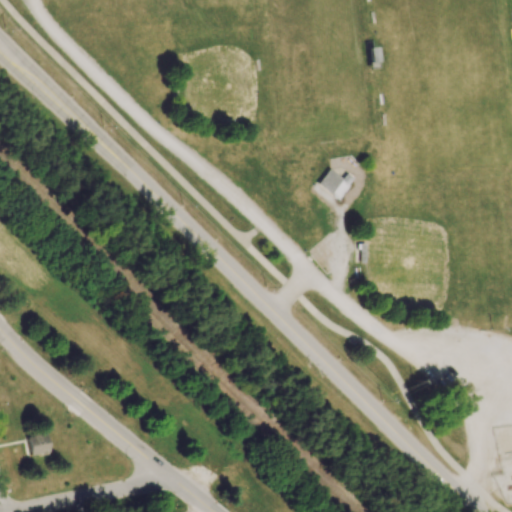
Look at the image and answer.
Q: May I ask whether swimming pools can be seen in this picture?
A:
No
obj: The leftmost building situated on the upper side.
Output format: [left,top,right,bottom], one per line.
[320,169,351,202]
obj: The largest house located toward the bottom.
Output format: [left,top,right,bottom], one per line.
[22,438,50,459]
